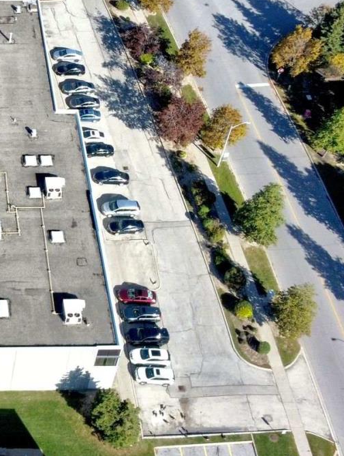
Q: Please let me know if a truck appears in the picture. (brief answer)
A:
No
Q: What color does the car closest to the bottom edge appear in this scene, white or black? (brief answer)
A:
white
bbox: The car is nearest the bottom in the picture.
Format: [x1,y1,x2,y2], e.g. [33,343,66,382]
[134,364,176,386]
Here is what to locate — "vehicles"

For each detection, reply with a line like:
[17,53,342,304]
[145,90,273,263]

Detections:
[127,324,169,345]
[117,287,158,305]
[61,79,94,95]
[70,109,104,124]
[129,345,171,367]
[101,198,140,216]
[107,217,145,234]
[83,128,109,143]
[68,95,101,110]
[54,62,85,77]
[85,141,117,159]
[52,49,84,63]
[121,304,163,324]
[134,364,176,386]
[93,169,129,186]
